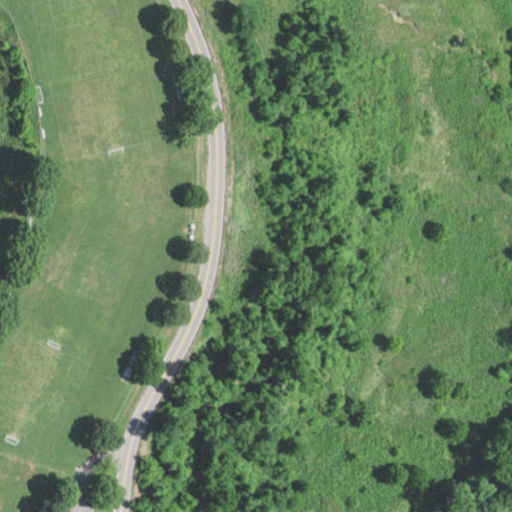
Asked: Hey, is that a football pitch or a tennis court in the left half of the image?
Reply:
football pitch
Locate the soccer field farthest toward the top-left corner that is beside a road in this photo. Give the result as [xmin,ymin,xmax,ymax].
[30,0,166,162]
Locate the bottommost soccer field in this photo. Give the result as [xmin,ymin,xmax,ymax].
[0,328,92,457]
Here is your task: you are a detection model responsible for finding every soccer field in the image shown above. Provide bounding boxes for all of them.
[30,0,166,162]
[0,328,92,457]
